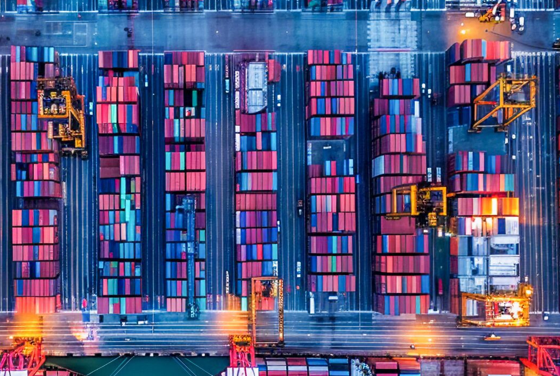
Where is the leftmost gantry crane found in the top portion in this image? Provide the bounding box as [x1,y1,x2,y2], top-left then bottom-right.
[37,77,85,155]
